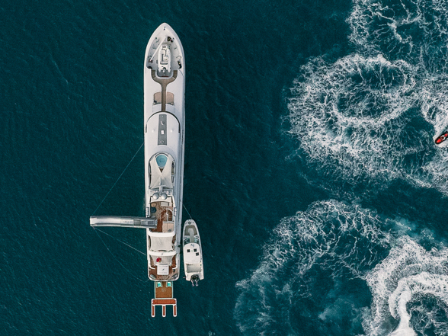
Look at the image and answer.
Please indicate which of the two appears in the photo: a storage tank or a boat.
boat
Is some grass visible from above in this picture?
No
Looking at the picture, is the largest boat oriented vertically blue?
No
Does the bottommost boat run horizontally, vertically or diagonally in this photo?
vertically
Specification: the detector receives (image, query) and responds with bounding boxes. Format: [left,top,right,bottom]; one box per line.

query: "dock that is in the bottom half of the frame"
[152,298,177,317]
